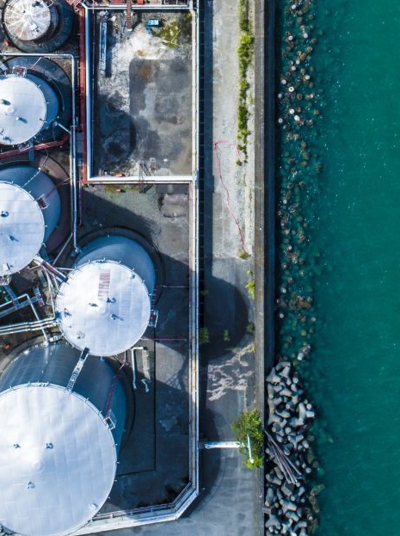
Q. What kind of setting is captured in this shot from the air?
industrial area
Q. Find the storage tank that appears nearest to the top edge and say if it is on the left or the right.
left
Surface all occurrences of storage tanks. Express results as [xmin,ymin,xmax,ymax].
[0,329,139,536]
[54,217,167,360]
[0,149,78,289]
[0,55,79,156]
[0,0,74,53]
